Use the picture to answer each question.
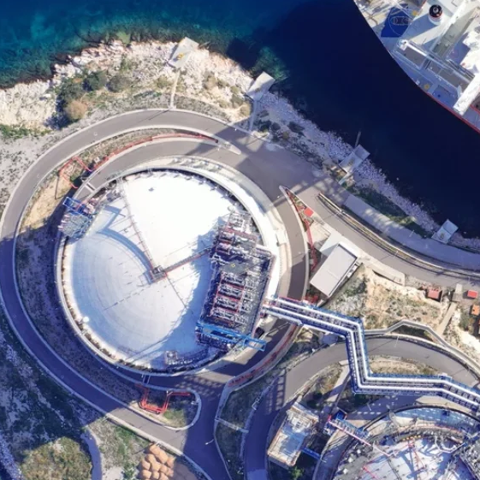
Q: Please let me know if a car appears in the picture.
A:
No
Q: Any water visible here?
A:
Yes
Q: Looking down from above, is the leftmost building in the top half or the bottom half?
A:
bottom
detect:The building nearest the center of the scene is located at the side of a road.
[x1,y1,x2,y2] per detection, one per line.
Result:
[310,231,363,297]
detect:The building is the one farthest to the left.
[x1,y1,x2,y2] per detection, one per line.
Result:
[268,401,321,468]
